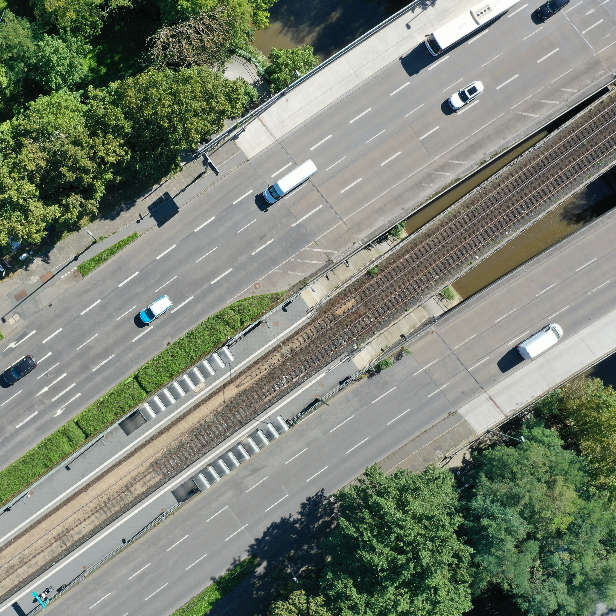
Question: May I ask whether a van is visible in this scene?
Yes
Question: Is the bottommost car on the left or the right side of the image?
left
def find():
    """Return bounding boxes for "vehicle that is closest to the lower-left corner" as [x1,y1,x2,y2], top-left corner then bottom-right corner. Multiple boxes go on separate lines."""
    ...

[1,354,39,385]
